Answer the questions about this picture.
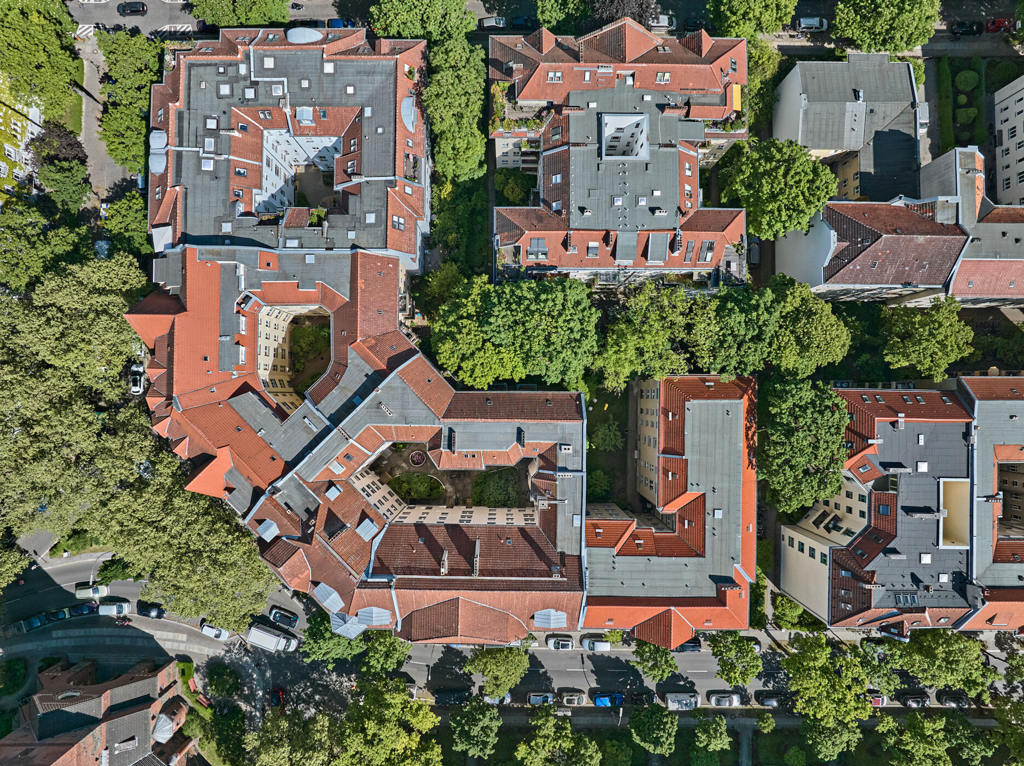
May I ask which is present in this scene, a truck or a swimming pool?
truck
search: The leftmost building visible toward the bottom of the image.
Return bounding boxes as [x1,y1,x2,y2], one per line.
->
[0,652,202,766]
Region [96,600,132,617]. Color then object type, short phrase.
white car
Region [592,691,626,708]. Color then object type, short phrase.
blue car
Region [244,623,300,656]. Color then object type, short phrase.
white truck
